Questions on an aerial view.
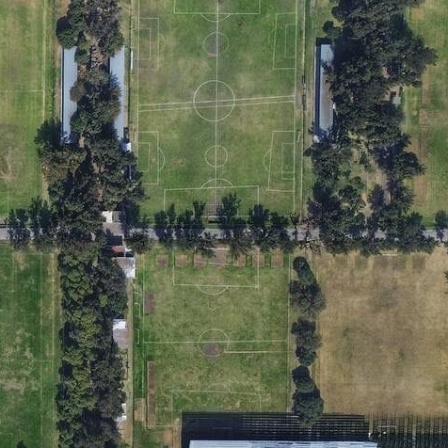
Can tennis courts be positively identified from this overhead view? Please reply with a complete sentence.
No, I can't see a single tennis court in this photo.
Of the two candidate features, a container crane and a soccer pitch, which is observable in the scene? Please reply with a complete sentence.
Visible in the photo is a soccer pitch.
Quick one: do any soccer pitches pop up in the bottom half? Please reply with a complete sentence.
Yes, in the bottom half there is a soccer pitch.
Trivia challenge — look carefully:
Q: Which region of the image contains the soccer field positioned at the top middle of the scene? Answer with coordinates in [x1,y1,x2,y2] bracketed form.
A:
[127,0,308,225]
